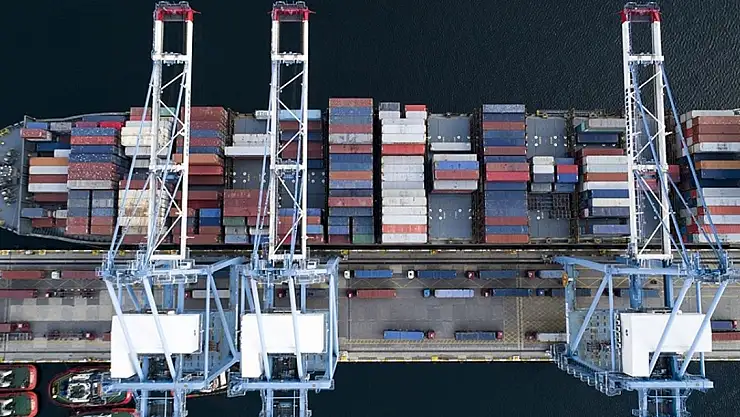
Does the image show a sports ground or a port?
port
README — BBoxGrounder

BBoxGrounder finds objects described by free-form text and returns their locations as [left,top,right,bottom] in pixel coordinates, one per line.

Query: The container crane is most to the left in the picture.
[99,2,253,417]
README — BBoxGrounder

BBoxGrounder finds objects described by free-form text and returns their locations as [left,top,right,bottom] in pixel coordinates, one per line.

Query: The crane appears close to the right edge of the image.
[546,2,735,417]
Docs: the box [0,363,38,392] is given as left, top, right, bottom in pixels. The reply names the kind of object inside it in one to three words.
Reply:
boat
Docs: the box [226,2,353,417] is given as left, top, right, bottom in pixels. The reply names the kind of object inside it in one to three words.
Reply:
container crane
